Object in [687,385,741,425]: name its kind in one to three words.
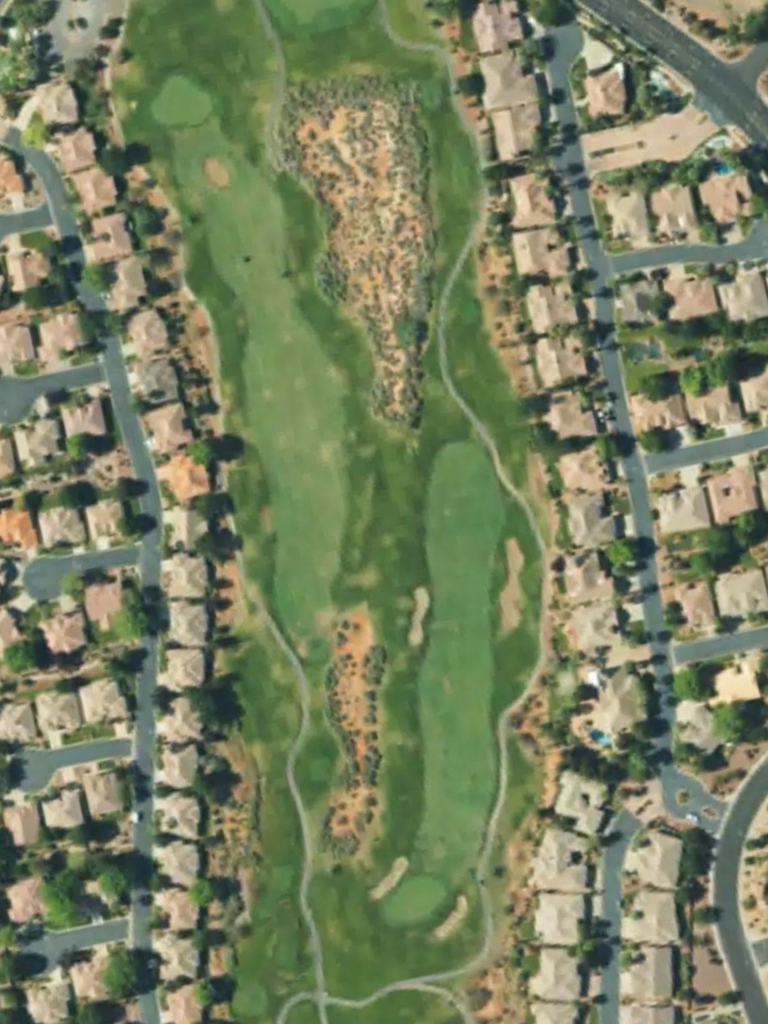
house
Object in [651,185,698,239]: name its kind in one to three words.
house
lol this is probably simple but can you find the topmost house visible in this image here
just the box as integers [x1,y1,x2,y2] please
[473,0,521,53]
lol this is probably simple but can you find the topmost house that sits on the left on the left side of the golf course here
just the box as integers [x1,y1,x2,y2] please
[36,80,79,124]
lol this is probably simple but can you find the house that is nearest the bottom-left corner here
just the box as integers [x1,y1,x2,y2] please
[27,983,71,1024]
